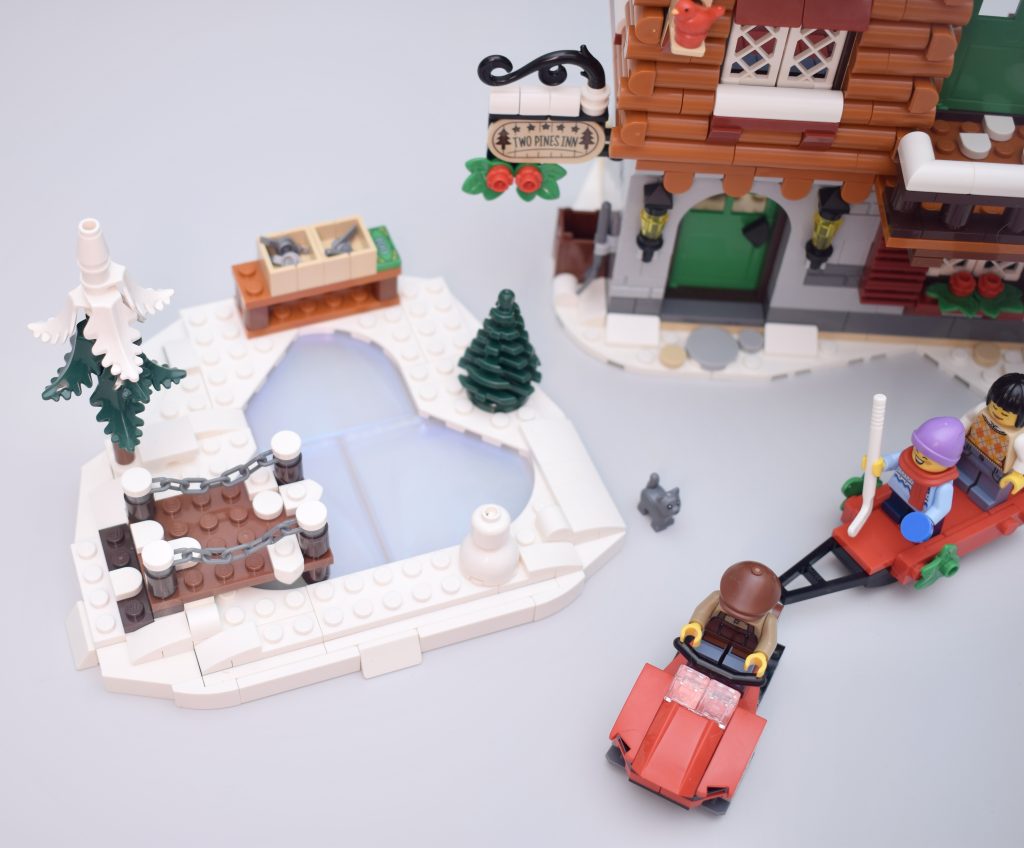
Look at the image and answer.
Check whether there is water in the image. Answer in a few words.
Yes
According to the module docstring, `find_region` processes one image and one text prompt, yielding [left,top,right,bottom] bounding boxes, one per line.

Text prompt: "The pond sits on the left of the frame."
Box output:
[67,277,623,711]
